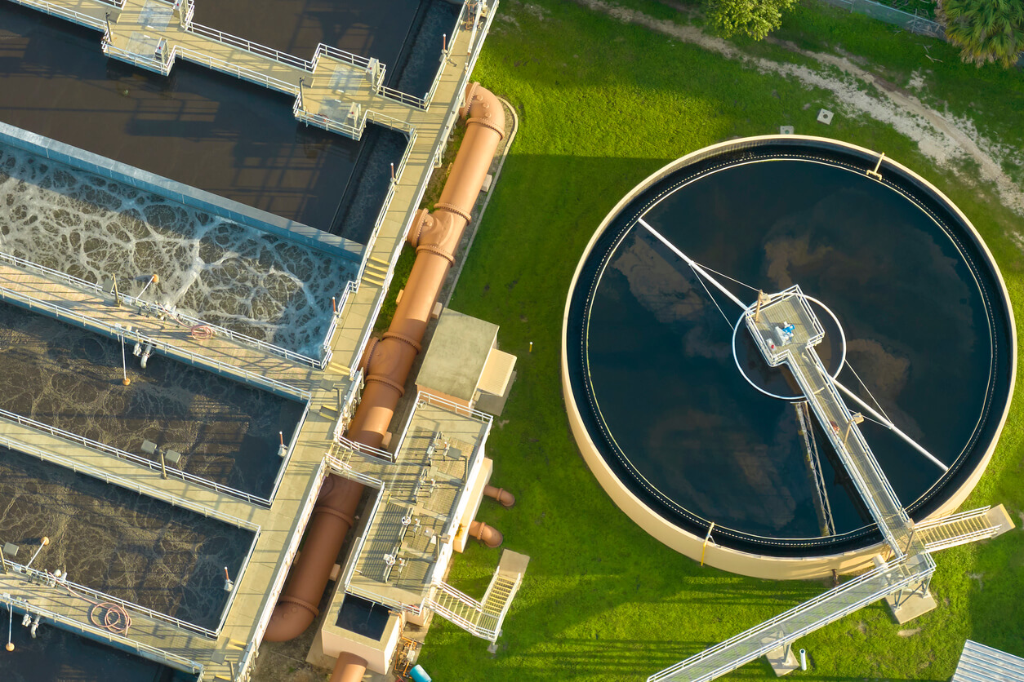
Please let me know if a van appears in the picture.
No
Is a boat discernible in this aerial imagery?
No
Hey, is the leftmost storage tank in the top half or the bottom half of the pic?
bottom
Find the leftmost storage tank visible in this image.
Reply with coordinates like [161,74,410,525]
[322,535,400,682]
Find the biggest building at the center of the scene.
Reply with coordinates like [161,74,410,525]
[416,308,517,418]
